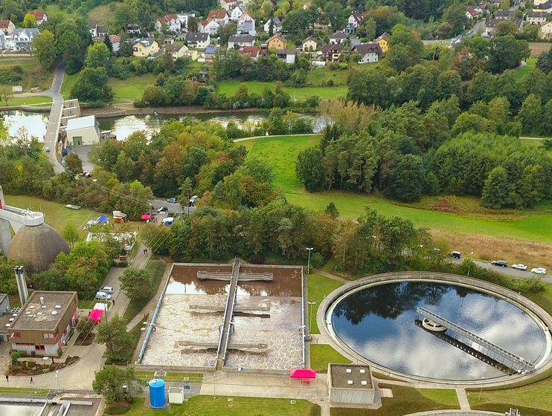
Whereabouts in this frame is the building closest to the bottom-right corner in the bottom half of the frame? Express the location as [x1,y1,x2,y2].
[325,360,378,404]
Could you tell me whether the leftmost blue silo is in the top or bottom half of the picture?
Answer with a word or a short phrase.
bottom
